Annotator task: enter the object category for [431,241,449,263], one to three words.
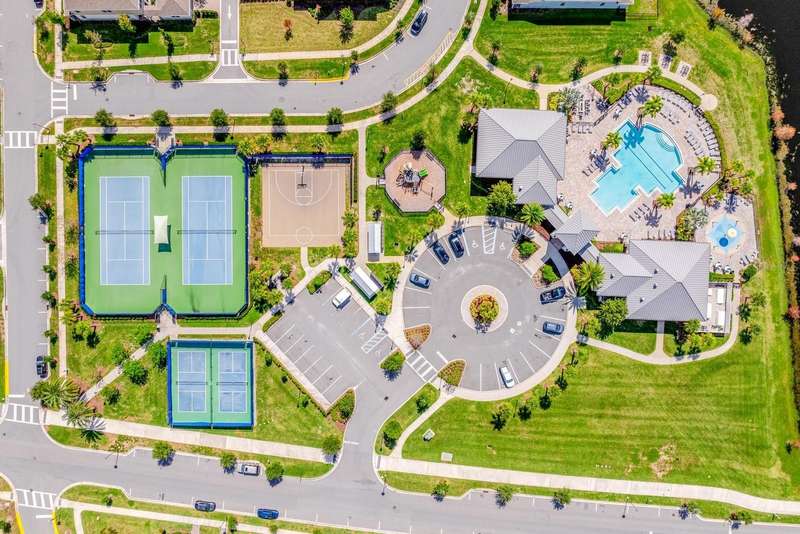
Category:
car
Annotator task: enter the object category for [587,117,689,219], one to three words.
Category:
swimming pool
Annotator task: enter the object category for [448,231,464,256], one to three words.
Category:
car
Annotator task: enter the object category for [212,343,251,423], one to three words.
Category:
sports court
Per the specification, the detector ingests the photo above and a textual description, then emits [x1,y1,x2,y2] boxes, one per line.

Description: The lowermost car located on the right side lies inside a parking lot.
[498,365,513,387]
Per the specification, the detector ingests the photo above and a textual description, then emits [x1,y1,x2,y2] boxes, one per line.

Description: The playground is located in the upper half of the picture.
[384,150,447,212]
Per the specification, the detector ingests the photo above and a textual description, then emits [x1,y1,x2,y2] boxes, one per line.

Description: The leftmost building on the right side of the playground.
[478,110,566,205]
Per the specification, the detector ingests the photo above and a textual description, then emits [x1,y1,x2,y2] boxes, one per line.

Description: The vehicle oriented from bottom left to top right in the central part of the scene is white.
[330,287,353,308]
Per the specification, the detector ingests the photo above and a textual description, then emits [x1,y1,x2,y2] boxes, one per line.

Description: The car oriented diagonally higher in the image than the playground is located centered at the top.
[411,10,429,34]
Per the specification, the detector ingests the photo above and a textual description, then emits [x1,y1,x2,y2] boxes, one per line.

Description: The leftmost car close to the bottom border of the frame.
[194,499,217,512]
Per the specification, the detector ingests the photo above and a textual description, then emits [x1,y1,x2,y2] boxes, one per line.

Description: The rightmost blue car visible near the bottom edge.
[256,507,279,520]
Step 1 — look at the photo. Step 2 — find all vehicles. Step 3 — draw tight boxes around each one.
[448,231,464,256]
[498,365,513,387]
[538,287,565,303]
[194,499,217,512]
[411,10,429,34]
[256,507,279,520]
[541,322,563,333]
[409,274,431,287]
[330,287,353,308]
[36,354,49,379]
[431,241,449,263]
